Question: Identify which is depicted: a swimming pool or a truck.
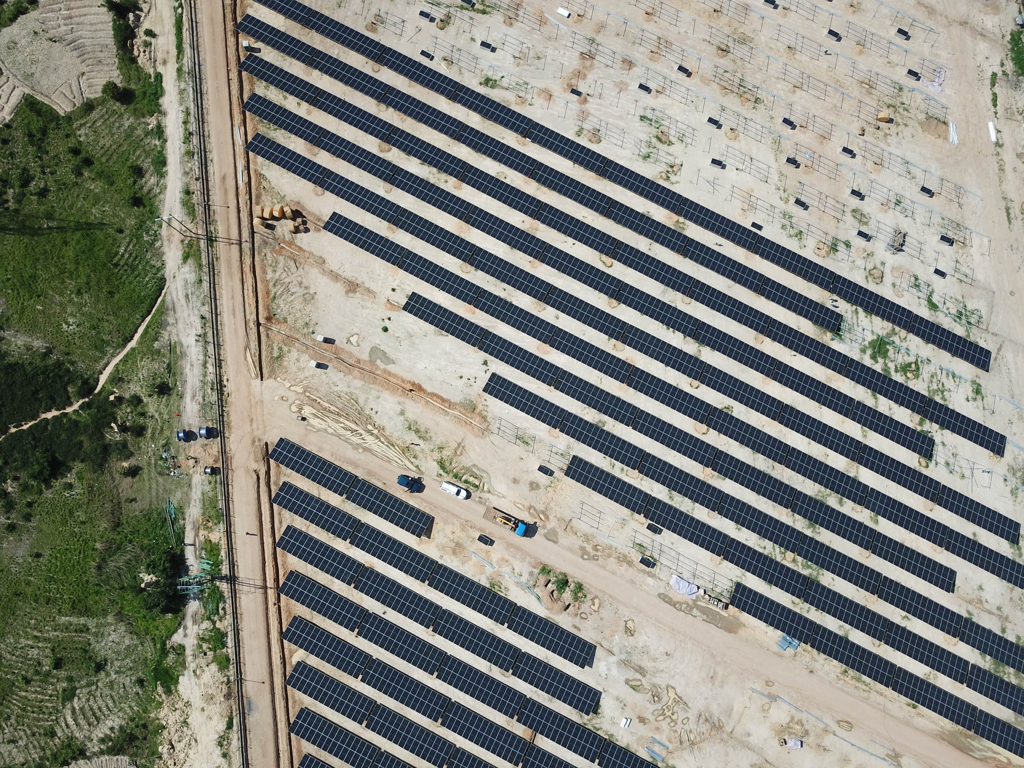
truck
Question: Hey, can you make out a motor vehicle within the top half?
No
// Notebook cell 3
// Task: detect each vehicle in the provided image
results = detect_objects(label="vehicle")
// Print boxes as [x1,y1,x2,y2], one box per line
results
[483,505,529,539]
[439,481,467,500]
[396,475,422,494]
